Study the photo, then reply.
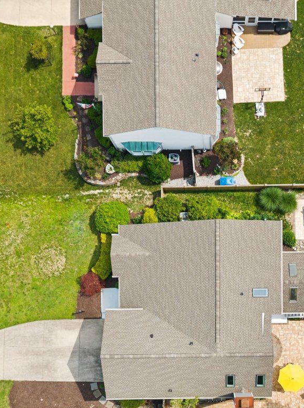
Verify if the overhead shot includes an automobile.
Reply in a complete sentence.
No, the picture doesn't show any automobile.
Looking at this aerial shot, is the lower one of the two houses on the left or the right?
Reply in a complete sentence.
The lower one of the two houses is on the right side of the image.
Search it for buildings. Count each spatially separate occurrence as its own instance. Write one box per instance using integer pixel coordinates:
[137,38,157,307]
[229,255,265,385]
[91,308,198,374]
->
[77,0,299,157]
[101,220,304,408]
